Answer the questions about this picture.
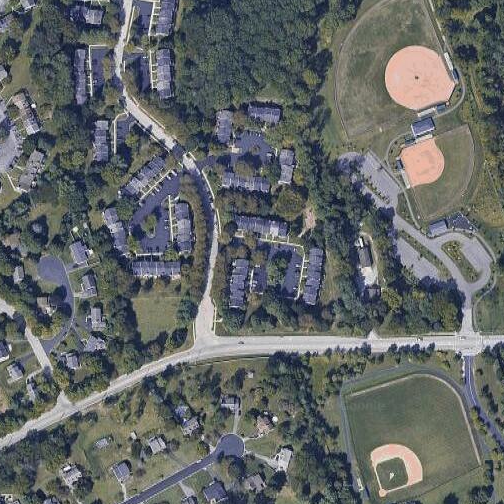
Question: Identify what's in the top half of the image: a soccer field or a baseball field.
baseball field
